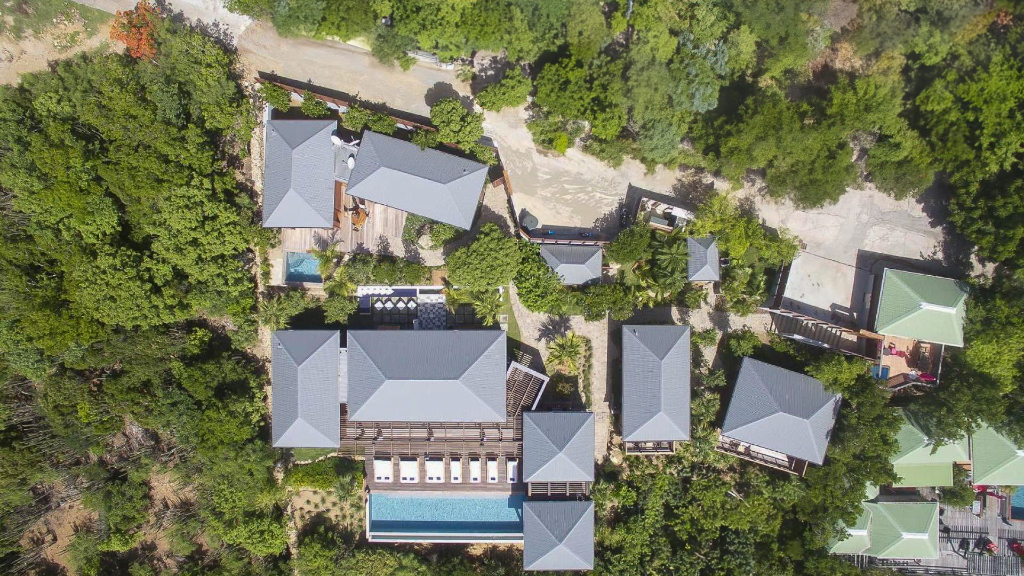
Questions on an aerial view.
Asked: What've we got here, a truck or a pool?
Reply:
pool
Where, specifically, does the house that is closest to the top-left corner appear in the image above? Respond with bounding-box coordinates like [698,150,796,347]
[262,119,341,228]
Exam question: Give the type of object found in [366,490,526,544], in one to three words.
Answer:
swimming pool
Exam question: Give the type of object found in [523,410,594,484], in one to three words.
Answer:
house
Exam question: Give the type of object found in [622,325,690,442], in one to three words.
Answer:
house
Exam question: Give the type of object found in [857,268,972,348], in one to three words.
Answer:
building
